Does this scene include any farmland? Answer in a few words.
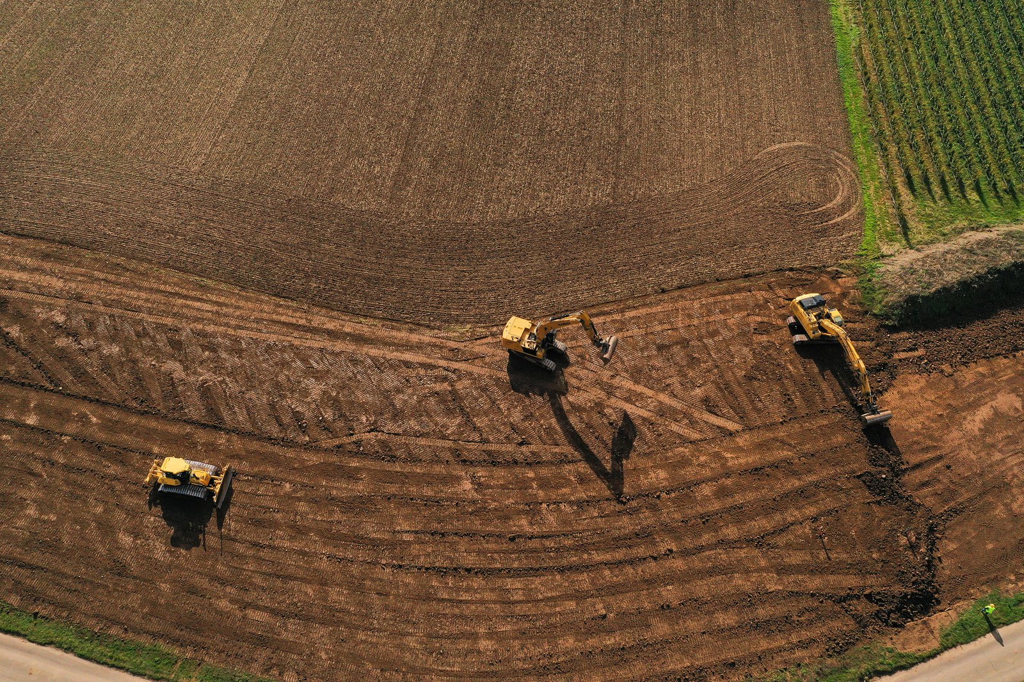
Yes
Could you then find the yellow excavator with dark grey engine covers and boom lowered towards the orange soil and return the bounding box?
[789,296,898,423]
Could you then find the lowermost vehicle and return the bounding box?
[145,455,235,511]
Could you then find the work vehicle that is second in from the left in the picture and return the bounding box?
[506,309,619,371]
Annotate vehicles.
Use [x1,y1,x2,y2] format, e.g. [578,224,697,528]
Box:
[506,309,619,371]
[145,455,235,511]
[789,296,898,423]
